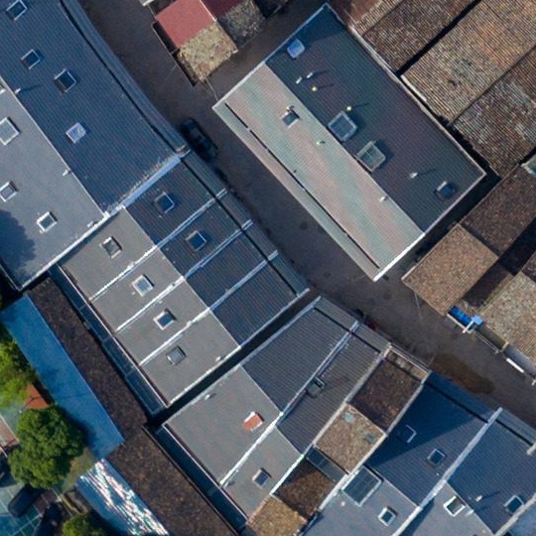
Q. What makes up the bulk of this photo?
buildings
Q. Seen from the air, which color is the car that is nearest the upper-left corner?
black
